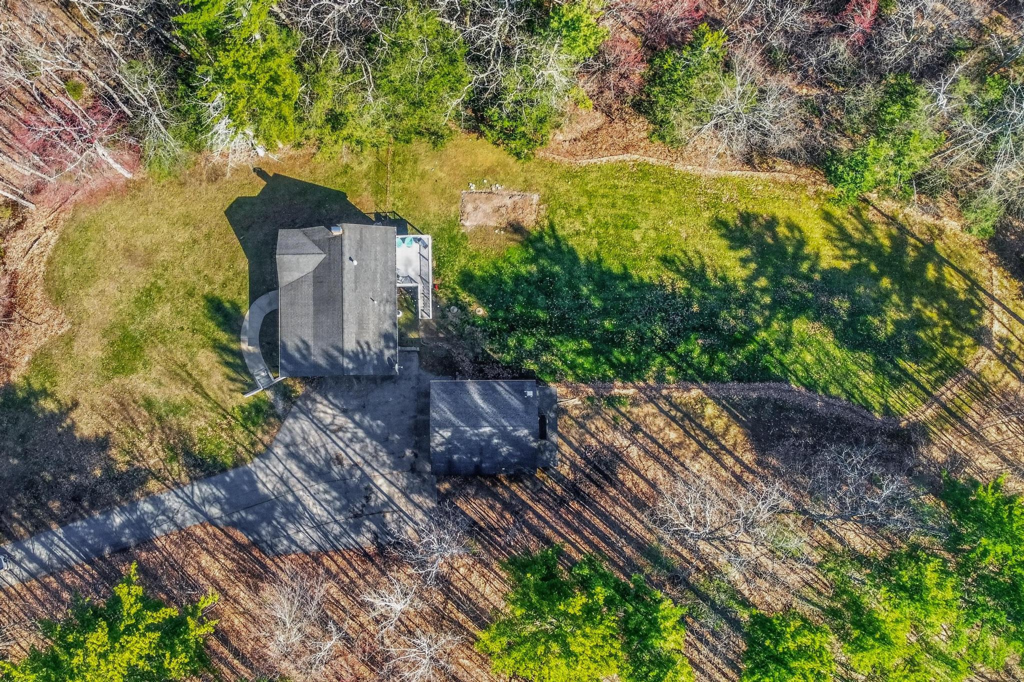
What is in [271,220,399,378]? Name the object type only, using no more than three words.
house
